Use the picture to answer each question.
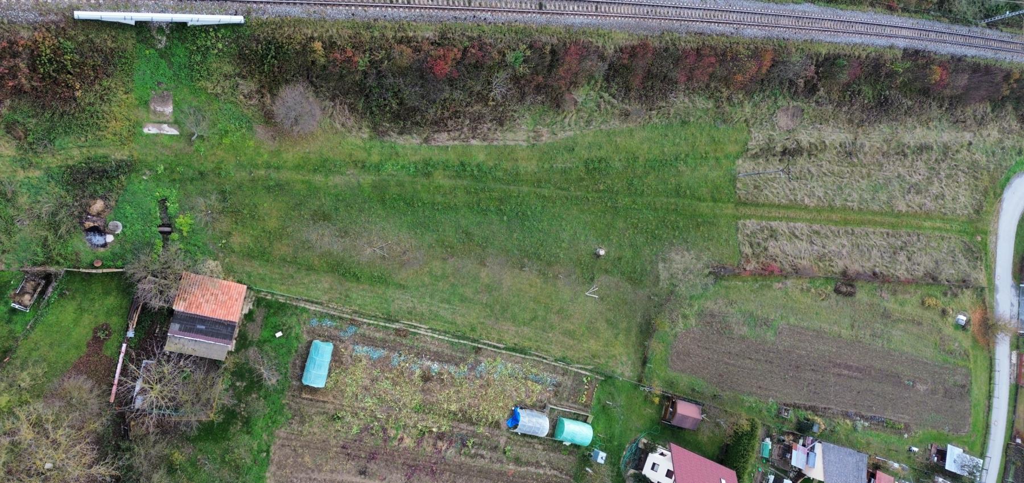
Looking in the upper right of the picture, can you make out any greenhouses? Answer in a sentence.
No, I see no greenhouse in the upper right of the picture.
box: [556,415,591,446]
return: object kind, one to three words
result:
greenhouse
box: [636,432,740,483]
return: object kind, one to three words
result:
house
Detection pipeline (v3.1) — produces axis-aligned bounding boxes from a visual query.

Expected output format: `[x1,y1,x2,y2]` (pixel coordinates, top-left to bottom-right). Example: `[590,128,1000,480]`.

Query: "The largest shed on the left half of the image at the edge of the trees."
[164,272,259,361]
